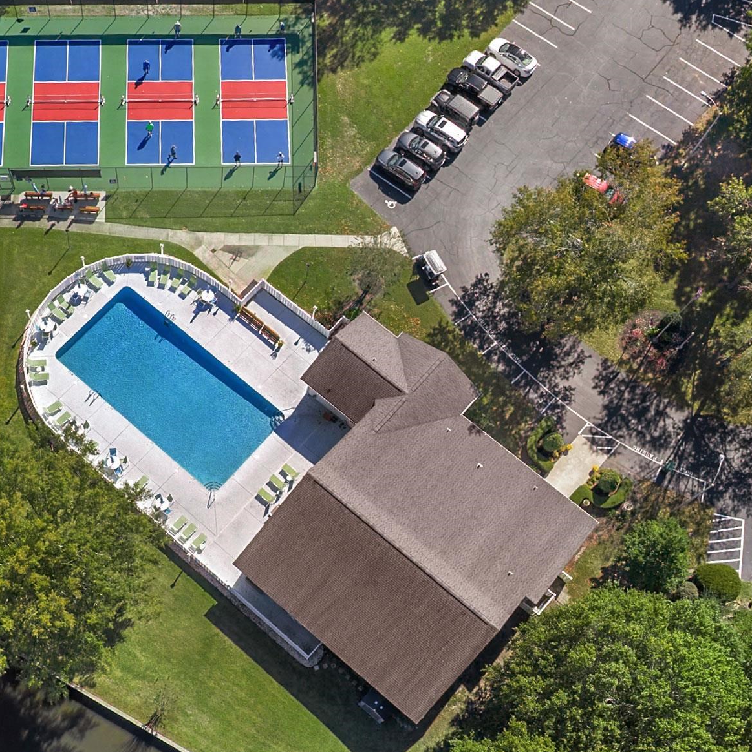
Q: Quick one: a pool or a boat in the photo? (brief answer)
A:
pool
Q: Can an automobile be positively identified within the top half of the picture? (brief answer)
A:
Yes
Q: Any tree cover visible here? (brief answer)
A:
Yes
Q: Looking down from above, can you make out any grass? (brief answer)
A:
Yes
